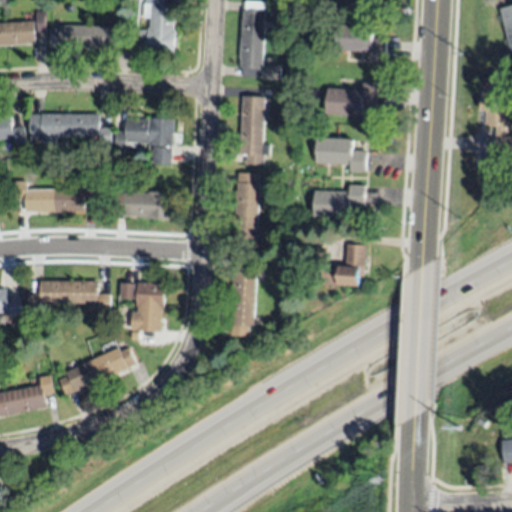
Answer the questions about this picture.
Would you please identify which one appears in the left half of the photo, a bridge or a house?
house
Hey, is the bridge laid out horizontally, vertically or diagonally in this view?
vertically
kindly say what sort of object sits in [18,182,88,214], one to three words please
house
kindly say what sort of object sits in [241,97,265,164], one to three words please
building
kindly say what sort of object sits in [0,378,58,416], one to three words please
house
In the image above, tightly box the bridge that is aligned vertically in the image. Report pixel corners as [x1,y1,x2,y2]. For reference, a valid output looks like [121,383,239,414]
[396,256,440,425]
